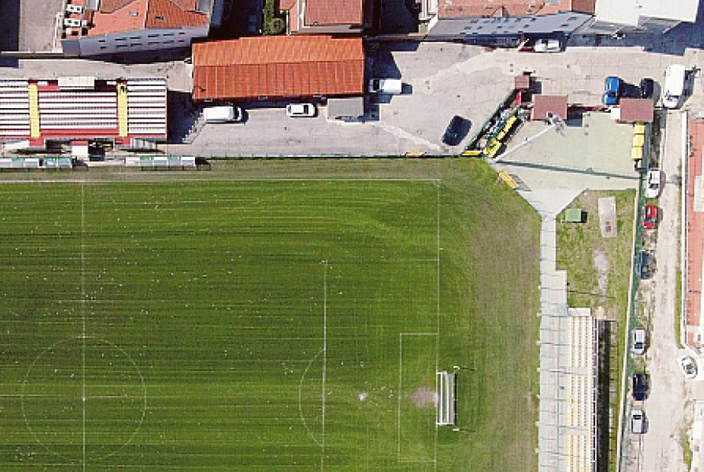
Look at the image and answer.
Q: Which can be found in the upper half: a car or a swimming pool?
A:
car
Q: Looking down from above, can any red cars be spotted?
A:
Yes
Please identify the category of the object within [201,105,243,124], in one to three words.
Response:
vehicle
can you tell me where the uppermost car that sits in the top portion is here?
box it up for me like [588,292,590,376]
[531,37,563,54]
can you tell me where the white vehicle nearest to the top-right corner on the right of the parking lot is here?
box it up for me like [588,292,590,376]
[659,61,687,111]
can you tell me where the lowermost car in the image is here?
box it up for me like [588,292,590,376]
[629,409,646,434]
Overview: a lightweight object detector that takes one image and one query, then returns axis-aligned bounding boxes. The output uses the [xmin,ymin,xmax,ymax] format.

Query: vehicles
[531,37,563,54]
[444,116,468,147]
[629,409,646,434]
[629,329,647,355]
[637,75,655,99]
[369,77,404,95]
[642,203,660,231]
[643,168,662,198]
[636,250,654,279]
[201,105,243,124]
[286,104,316,118]
[604,74,622,103]
[659,61,687,111]
[631,373,648,400]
